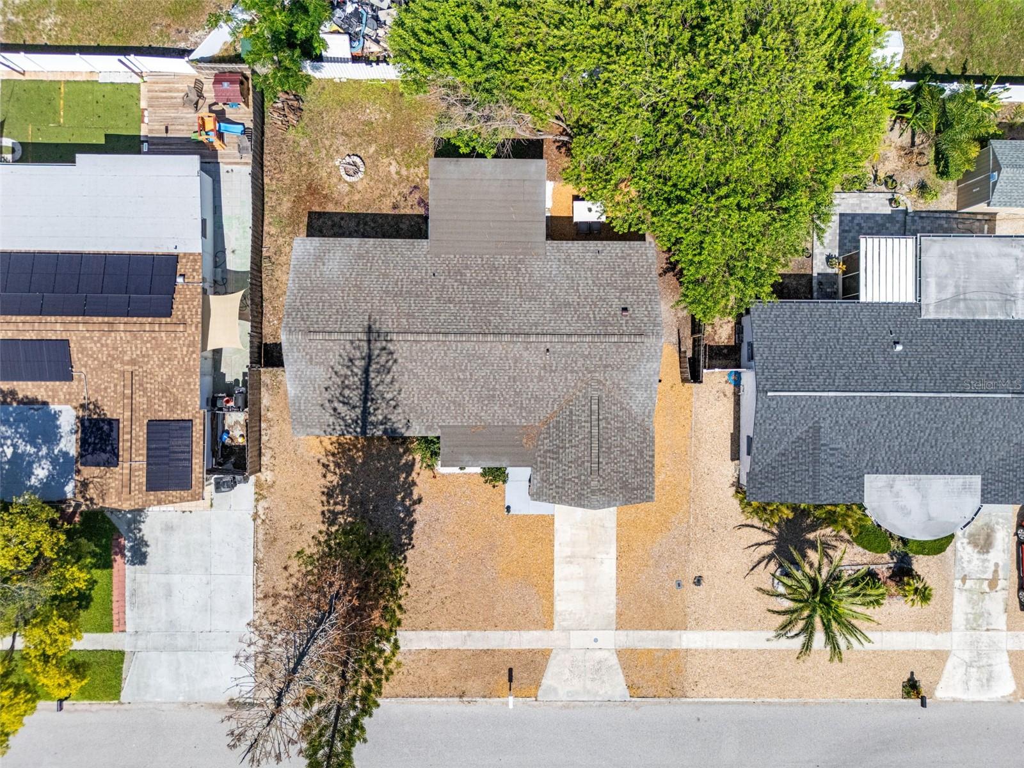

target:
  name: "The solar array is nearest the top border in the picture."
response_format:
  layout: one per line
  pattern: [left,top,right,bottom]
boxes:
[0,254,177,315]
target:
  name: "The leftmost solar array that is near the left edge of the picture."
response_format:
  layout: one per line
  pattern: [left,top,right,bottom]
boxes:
[0,340,77,382]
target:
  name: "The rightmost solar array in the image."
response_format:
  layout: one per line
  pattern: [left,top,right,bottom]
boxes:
[143,421,193,492]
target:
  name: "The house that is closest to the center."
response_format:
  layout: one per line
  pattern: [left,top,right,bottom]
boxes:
[282,159,662,508]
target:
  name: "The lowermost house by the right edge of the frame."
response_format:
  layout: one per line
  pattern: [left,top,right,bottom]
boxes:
[743,234,1024,539]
